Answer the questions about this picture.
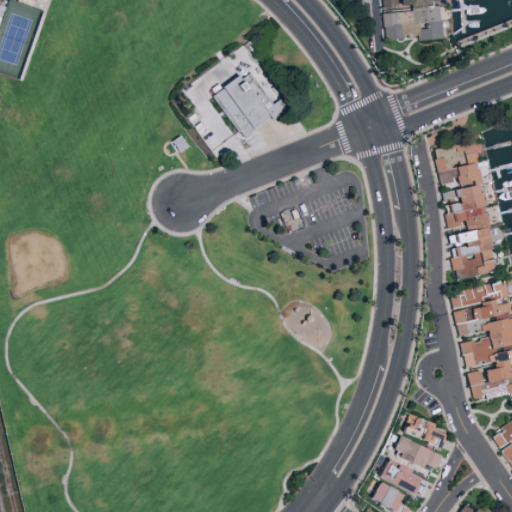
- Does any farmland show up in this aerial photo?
No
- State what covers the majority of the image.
grass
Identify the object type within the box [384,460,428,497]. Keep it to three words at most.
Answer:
house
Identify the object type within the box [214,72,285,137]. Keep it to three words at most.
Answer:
building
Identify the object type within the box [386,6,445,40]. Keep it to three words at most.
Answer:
building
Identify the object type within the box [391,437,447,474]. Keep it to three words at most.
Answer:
house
